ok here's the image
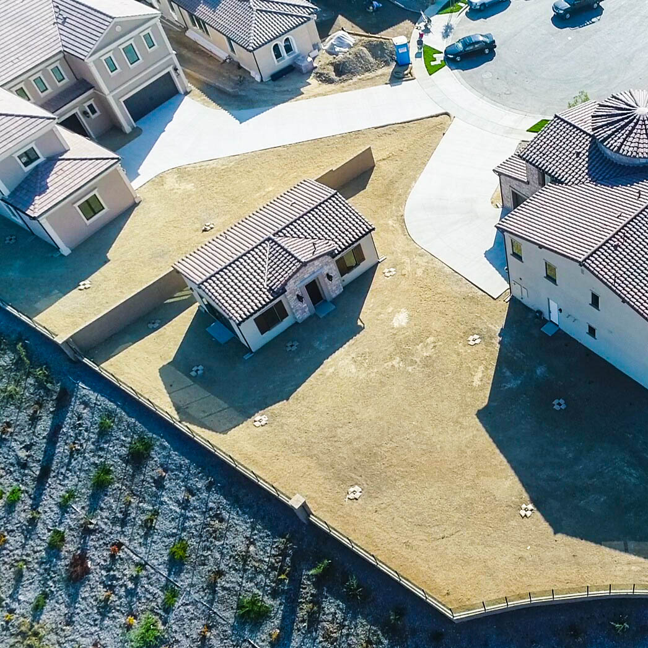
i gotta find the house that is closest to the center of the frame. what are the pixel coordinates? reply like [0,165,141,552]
[170,179,383,360]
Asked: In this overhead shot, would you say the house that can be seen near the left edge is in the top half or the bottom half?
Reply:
top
